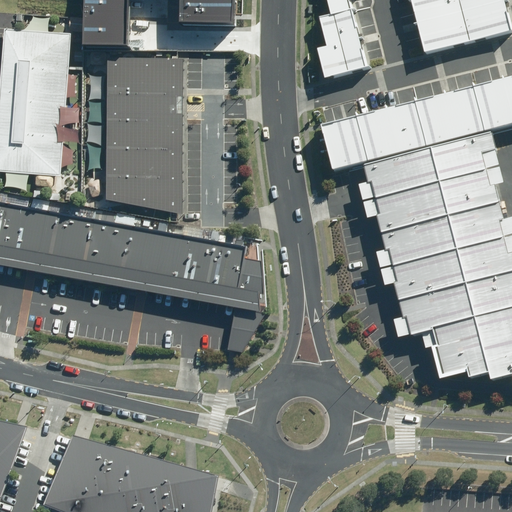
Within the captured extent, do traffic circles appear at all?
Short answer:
Yes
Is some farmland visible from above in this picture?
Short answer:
No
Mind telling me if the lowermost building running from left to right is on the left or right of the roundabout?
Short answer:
left of it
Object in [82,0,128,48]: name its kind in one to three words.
building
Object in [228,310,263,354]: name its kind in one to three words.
building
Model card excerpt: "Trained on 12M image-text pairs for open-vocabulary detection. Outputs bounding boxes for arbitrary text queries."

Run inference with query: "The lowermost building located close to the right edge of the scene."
[358,130,512,380]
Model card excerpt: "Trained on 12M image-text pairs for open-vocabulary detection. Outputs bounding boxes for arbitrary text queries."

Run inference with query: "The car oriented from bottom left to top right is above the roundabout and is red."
[362,324,378,338]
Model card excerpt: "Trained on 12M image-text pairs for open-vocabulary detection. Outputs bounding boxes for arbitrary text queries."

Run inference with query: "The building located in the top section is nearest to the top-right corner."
[408,0,512,54]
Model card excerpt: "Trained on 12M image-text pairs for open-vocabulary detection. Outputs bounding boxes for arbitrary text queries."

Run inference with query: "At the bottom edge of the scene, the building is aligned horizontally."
[44,436,218,512]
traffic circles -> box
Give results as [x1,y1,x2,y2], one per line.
[226,356,390,486]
